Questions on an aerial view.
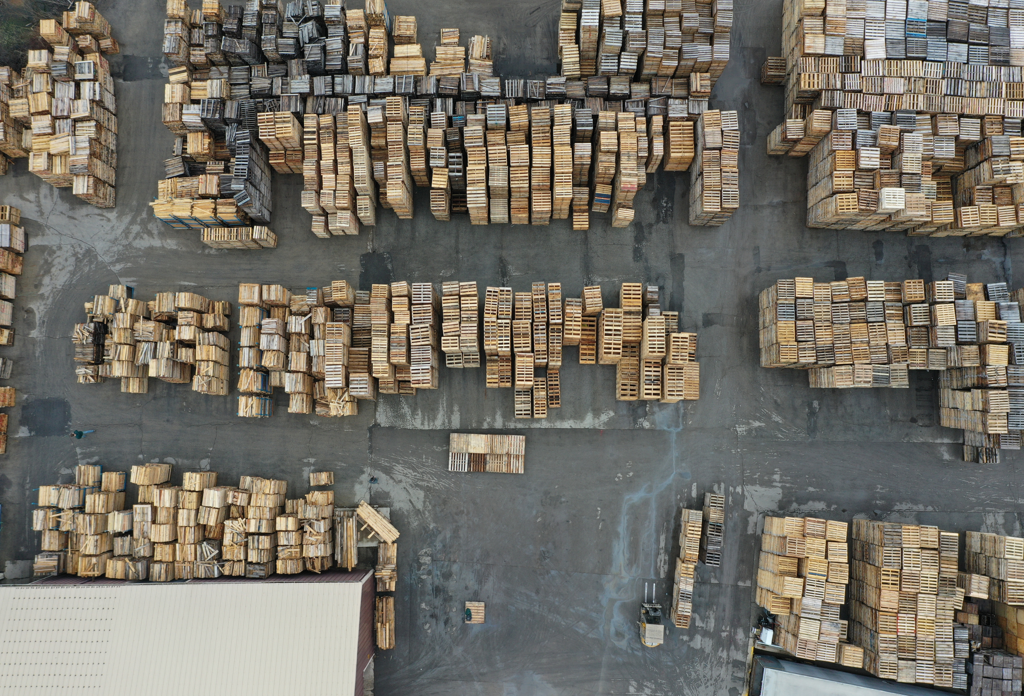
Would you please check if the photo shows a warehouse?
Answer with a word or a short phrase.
No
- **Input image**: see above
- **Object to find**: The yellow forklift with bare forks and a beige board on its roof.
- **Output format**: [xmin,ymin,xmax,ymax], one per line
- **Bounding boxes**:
[637,578,665,649]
